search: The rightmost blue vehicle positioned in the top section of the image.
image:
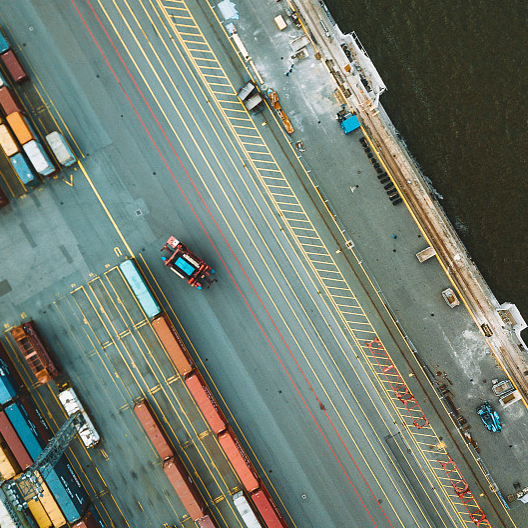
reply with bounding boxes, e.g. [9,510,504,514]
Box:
[334,111,361,136]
